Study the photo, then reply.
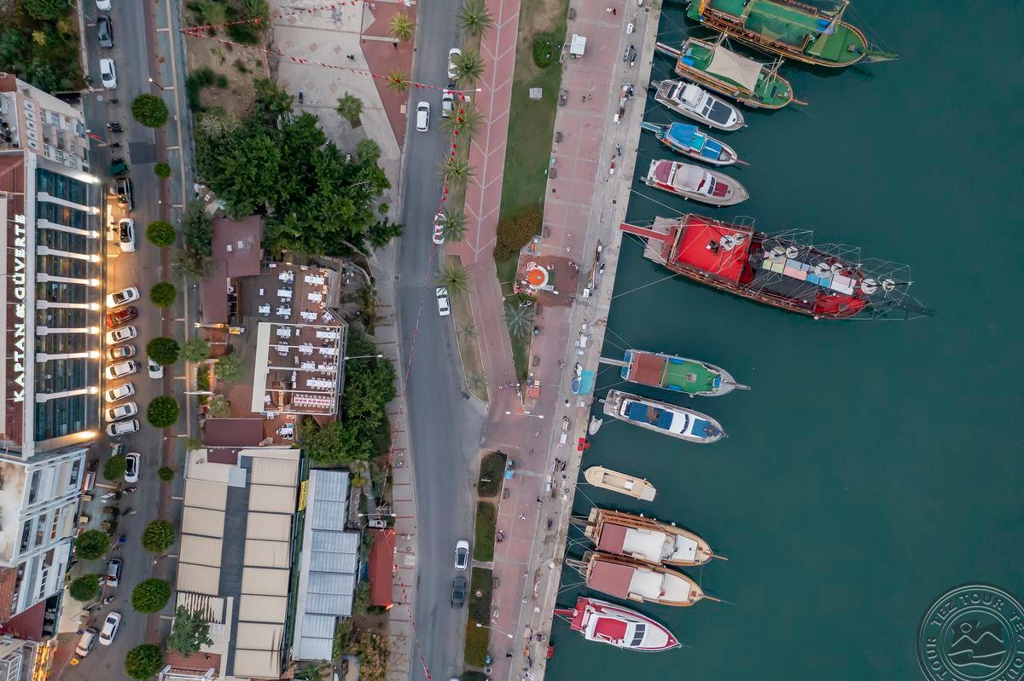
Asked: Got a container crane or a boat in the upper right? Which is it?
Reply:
boat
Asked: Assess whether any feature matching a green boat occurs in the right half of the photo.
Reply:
Yes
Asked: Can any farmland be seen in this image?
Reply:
No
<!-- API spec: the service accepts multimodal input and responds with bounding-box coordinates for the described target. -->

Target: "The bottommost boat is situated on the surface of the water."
[553,597,686,653]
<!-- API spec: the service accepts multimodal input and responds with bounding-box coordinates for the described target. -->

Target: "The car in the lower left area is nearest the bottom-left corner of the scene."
[71,625,99,659]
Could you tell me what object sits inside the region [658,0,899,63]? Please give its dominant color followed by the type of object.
green boat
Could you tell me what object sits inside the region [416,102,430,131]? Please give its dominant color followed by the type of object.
white car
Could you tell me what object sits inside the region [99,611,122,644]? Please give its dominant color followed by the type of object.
white car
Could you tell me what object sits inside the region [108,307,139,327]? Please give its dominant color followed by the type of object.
red car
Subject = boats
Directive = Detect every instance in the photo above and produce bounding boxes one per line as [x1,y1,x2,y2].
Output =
[632,160,749,215]
[646,80,747,128]
[595,328,750,396]
[599,391,725,441]
[588,415,603,434]
[577,467,657,508]
[553,597,686,653]
[655,18,807,108]
[559,539,722,606]
[568,496,728,591]
[658,0,899,63]
[640,121,749,165]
